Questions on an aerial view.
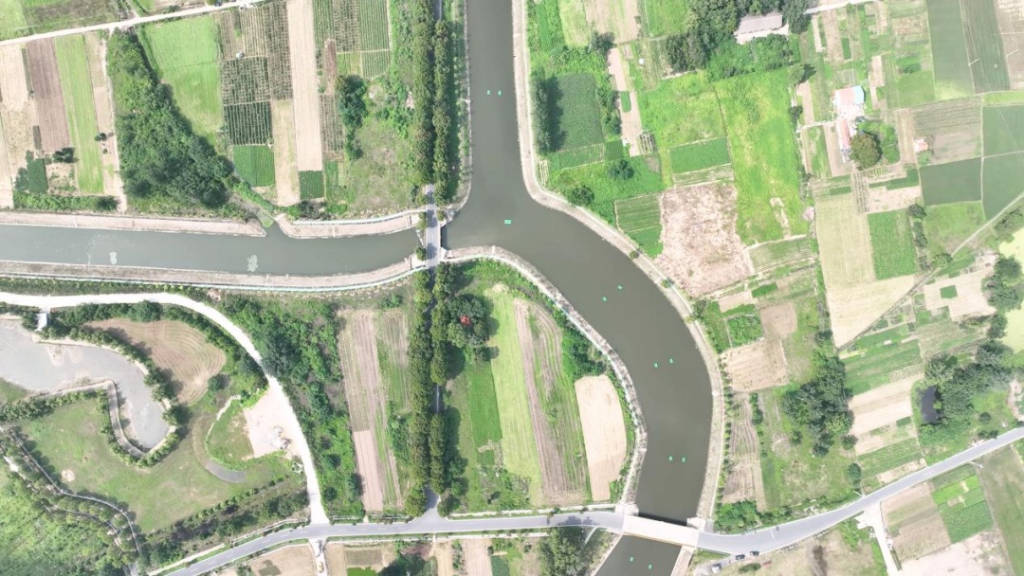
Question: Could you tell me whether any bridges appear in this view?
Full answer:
Yes, there is a bridge in the image.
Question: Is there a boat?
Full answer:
No, there appears to be no boat in this shot.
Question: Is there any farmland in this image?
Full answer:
Yes, the picture does contain farmland.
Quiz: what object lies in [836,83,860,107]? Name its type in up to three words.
house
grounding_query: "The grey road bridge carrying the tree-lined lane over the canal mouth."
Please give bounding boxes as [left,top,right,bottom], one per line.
[412,183,457,268]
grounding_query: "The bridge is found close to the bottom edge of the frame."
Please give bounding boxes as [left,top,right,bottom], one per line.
[611,503,705,568]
